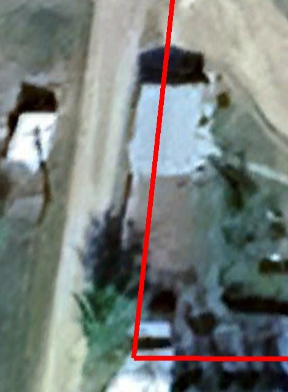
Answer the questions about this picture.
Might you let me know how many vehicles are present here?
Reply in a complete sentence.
The count of vehicles is 0.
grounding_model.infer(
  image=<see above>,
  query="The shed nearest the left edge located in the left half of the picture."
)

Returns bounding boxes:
[7,105,56,173]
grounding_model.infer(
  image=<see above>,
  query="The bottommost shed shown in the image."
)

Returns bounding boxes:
[110,342,172,392]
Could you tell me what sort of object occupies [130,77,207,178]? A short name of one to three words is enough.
shed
